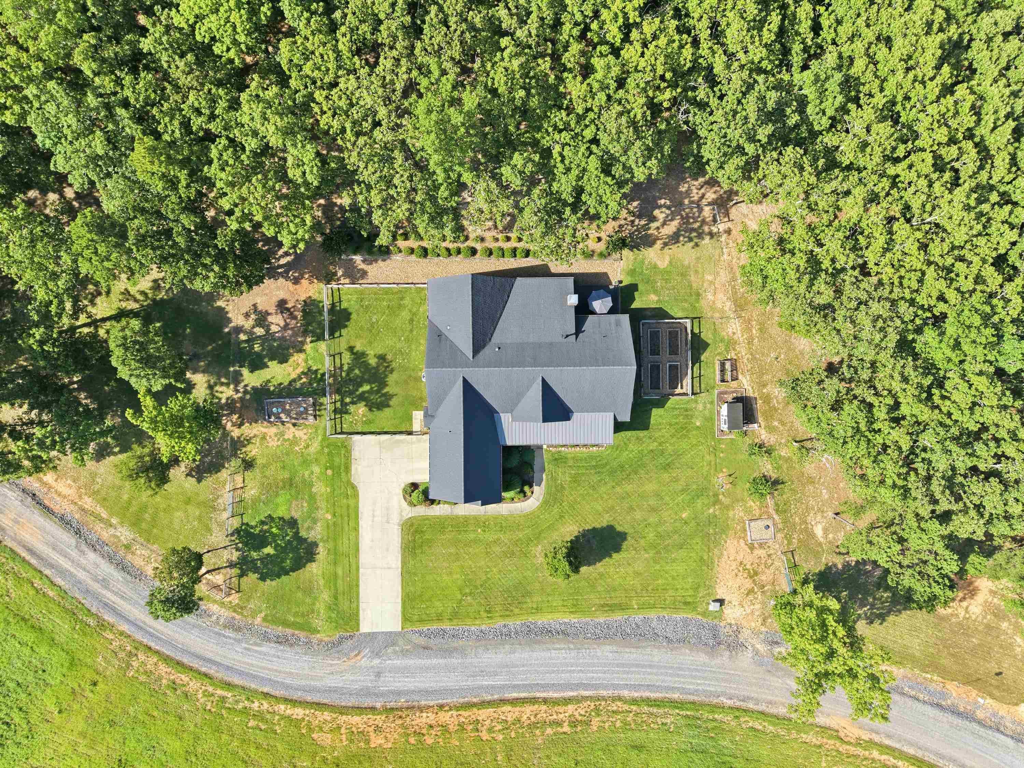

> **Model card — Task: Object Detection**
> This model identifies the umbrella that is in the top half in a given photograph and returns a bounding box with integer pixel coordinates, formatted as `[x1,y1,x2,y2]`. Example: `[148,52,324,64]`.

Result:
[589,290,613,313]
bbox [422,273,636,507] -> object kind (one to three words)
house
